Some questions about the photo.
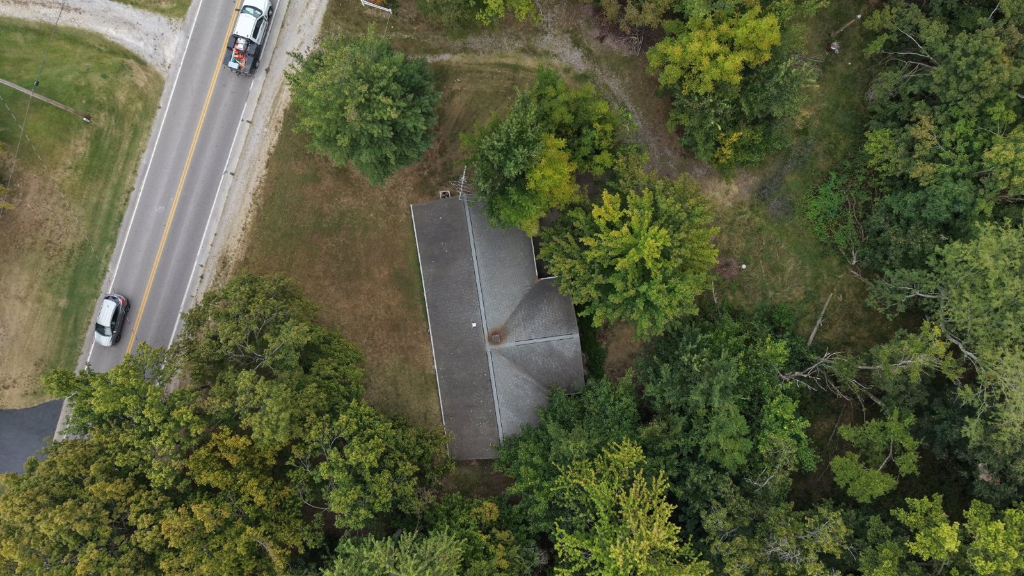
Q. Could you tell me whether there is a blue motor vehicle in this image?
No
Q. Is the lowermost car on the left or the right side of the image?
left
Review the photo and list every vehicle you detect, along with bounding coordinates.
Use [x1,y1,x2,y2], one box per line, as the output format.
[224,0,274,75]
[94,293,131,347]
